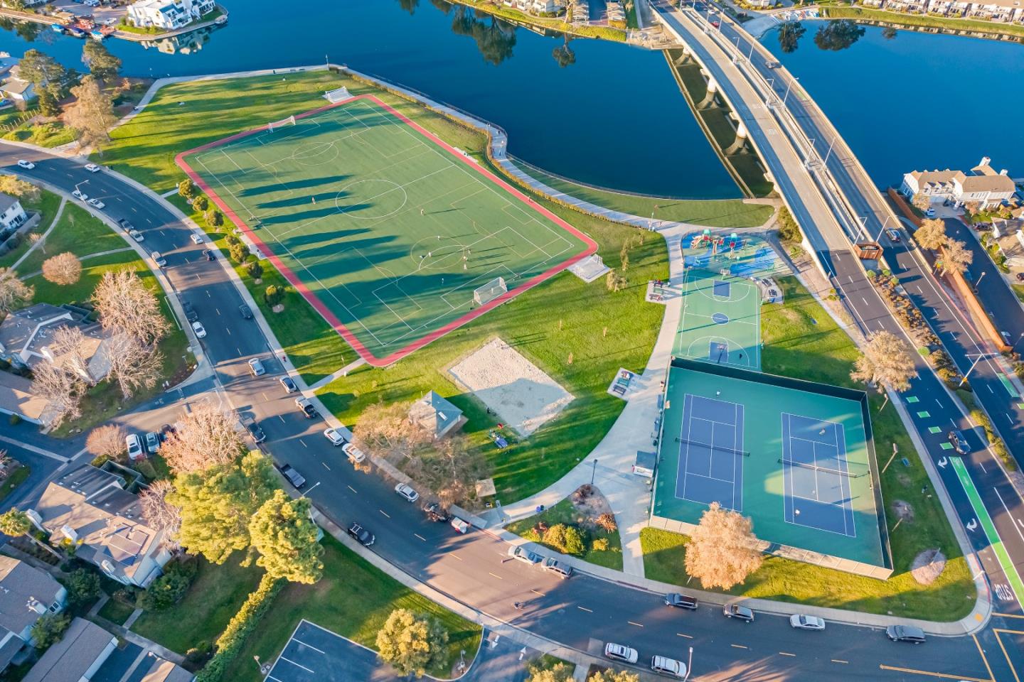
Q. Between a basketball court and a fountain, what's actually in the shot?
basketball court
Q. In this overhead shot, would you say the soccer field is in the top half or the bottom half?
top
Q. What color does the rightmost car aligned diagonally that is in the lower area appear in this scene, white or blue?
blue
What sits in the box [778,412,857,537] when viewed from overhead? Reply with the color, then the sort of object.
blue tennis court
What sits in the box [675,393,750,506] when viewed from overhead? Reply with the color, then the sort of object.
blue tennis court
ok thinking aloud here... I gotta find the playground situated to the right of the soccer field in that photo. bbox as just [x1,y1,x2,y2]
[681,232,794,279]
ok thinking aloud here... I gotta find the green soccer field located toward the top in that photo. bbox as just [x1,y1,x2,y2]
[175,94,597,368]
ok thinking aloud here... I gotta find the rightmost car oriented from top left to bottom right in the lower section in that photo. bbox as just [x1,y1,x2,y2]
[945,430,972,455]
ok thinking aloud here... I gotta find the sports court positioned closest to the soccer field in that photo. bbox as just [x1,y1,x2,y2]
[443,336,575,439]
